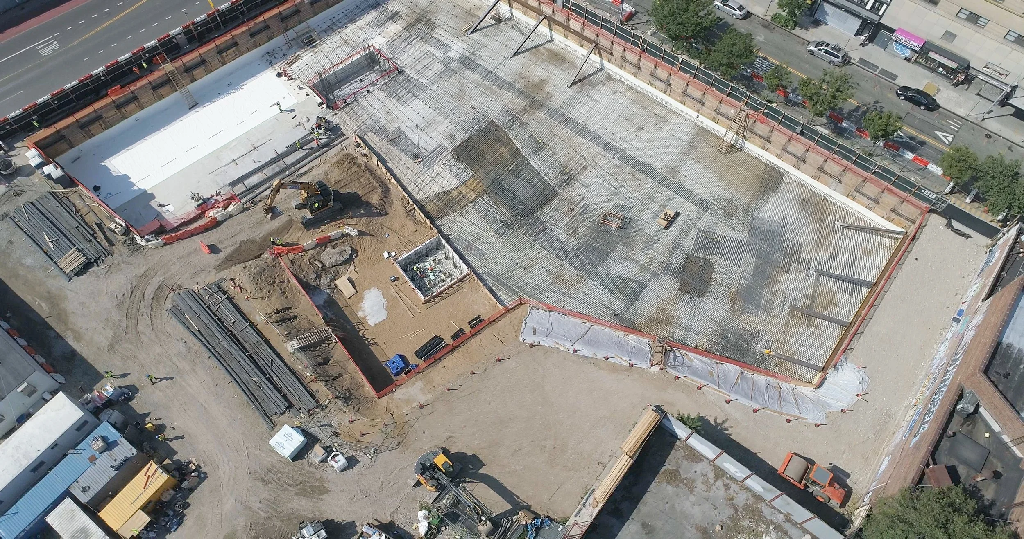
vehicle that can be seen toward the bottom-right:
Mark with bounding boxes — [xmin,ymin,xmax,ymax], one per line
[784,458,851,511]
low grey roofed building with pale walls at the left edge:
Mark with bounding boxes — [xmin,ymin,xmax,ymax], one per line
[0,329,57,435]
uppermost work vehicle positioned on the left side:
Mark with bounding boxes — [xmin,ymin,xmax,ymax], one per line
[263,172,343,223]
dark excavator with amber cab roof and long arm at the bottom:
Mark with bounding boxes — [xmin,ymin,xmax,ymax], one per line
[409,444,500,538]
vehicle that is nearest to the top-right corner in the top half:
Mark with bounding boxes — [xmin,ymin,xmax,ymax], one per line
[899,90,940,116]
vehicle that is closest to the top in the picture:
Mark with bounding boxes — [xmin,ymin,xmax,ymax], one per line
[714,2,751,23]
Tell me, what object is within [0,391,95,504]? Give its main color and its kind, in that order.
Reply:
white trailer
